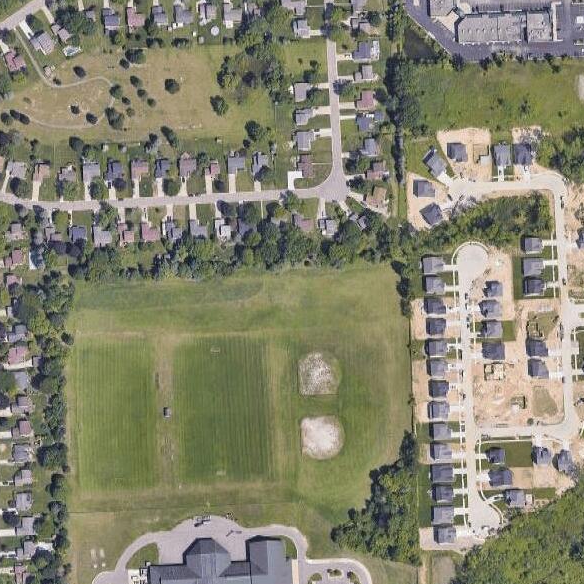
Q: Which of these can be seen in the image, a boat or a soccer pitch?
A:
soccer pitch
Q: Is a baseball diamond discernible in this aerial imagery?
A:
Yes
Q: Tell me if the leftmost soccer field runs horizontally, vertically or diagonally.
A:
vertically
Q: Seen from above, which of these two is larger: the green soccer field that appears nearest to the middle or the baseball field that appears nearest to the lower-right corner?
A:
the soccer field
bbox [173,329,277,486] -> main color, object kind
green soccer field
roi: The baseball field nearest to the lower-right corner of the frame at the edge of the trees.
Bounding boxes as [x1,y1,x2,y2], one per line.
[296,411,350,465]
